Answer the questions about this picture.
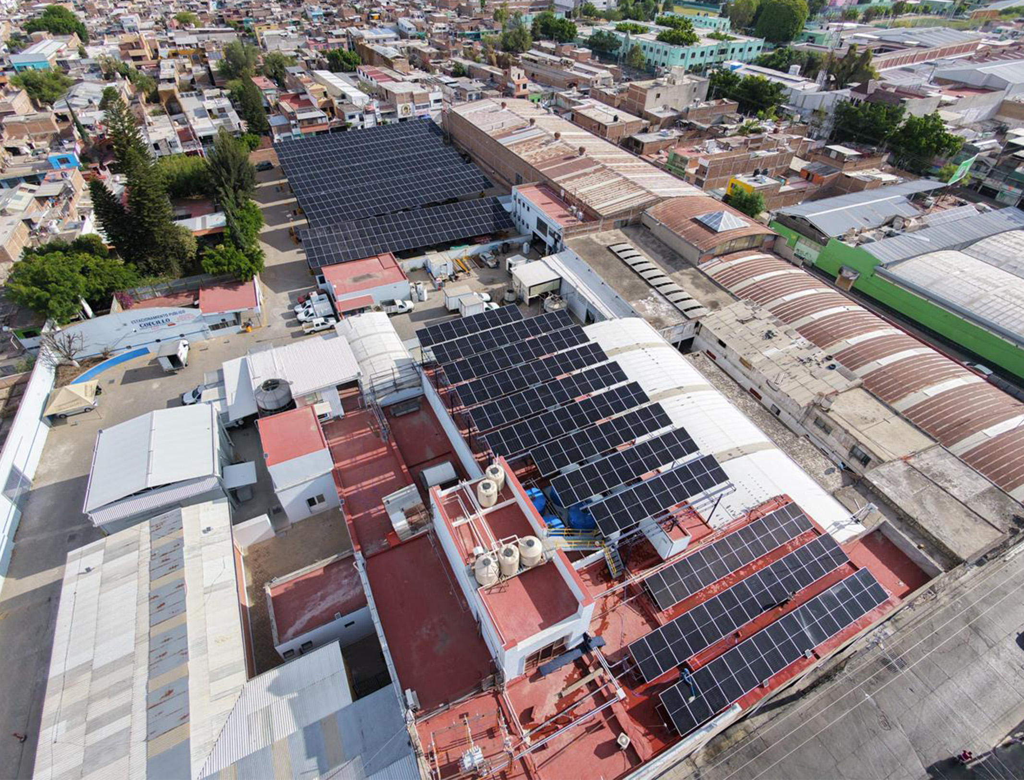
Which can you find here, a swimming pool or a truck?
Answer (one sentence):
The one in the frame is a truck.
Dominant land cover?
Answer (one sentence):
The scene is dominated by buildings.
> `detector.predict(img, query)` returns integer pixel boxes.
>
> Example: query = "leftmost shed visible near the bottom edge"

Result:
[31,498,259,780]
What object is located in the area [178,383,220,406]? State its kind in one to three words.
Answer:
car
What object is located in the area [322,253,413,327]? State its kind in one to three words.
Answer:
house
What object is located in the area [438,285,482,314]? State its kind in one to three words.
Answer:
truck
